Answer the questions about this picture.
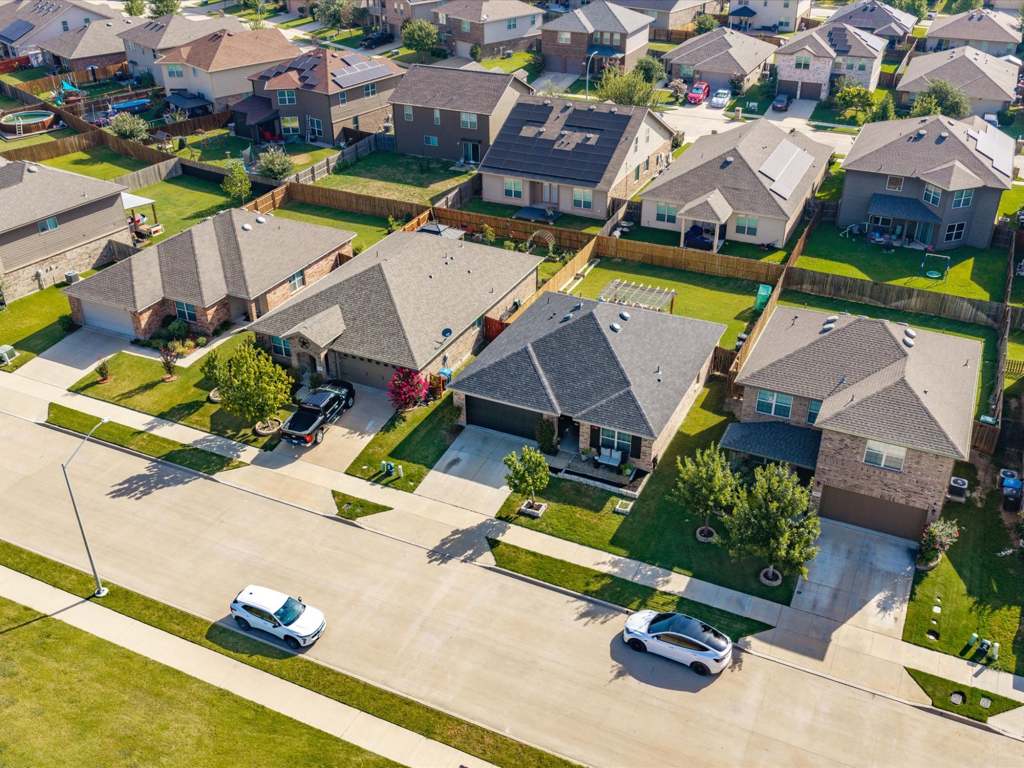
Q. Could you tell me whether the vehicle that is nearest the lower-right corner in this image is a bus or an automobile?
automobile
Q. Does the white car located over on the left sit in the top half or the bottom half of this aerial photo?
bottom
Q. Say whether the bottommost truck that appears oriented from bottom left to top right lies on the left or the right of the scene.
left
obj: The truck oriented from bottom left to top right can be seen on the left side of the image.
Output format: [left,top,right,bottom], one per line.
[278,380,361,446]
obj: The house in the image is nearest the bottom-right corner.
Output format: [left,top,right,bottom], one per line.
[720,302,985,542]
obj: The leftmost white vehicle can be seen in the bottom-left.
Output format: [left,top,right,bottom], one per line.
[230,584,325,649]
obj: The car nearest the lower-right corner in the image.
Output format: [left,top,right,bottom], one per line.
[622,608,733,675]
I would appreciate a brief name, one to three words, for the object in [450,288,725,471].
house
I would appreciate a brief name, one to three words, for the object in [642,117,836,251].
house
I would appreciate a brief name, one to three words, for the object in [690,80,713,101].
car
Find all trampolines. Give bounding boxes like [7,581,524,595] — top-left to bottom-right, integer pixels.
[239,135,280,169]
[75,97,112,126]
